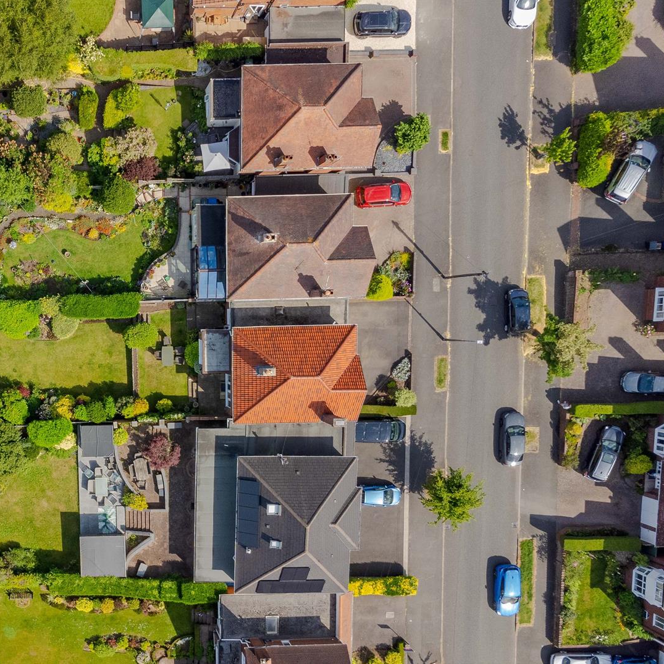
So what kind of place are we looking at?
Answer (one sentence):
The area seen from above is a residential area.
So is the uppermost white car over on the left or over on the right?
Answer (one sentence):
The uppermost white car sits on the right side.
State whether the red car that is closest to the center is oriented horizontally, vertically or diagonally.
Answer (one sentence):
I'd say the red car that is closest to the center is aligned horizontally in the picture.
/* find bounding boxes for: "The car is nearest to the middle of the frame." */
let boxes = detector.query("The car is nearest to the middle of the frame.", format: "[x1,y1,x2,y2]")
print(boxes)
[356,417,404,445]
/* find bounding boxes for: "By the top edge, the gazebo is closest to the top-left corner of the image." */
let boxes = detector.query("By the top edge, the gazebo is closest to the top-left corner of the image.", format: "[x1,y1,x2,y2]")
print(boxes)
[139,0,174,38]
